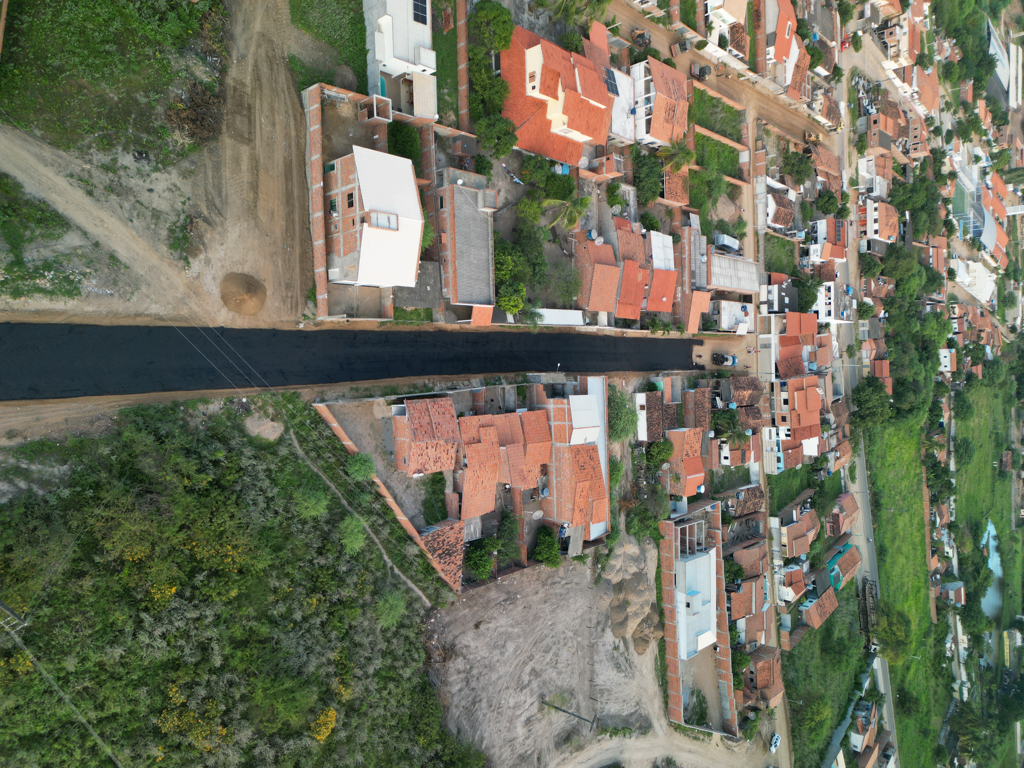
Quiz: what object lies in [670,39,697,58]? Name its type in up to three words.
work vehicle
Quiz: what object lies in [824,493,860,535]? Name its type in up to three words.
house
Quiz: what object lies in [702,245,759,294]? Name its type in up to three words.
building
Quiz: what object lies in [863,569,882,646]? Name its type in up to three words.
vehicle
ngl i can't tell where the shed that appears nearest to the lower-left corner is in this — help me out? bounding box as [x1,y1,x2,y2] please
[417,520,464,594]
